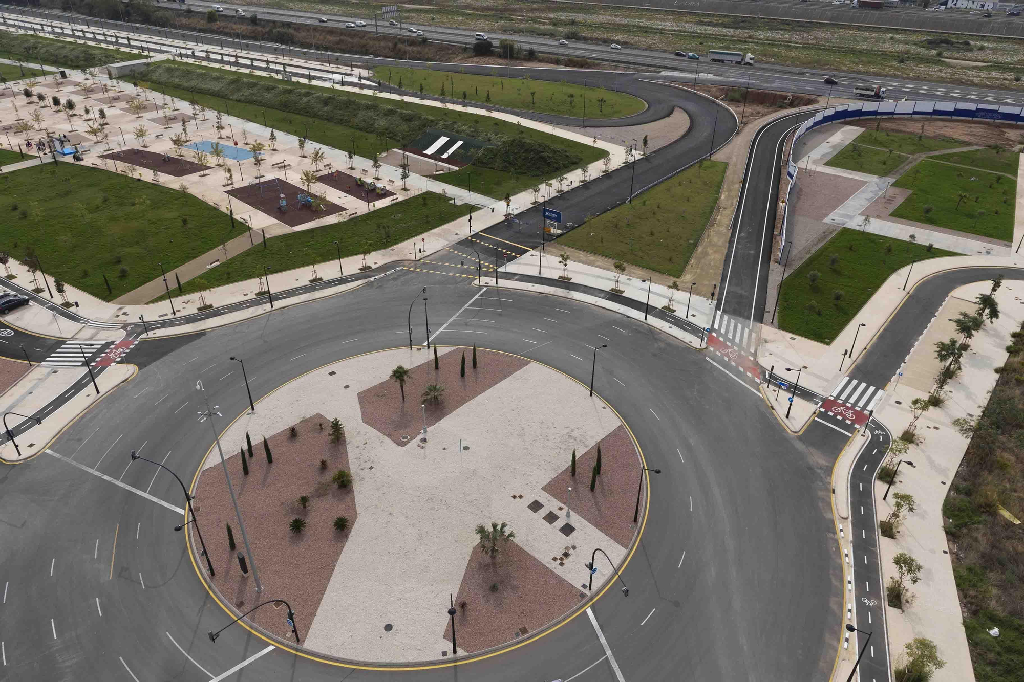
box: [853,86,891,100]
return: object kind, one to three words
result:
vehicle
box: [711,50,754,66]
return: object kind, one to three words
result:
vehicle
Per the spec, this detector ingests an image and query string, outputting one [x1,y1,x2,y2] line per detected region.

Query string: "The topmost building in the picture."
[105,60,147,76]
